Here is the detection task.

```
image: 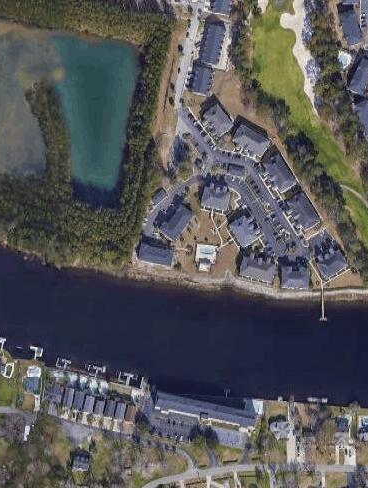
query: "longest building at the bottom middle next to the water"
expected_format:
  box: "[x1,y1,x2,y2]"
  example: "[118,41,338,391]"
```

[154,391,258,425]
